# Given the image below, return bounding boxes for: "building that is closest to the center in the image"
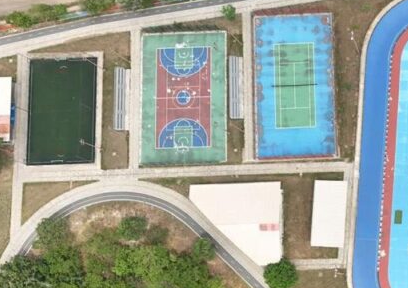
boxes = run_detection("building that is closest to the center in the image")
[190,182,284,265]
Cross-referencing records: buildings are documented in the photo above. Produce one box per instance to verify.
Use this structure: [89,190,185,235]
[190,182,284,265]
[311,180,348,247]
[0,77,21,143]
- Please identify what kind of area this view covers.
sports ground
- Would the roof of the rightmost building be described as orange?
No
